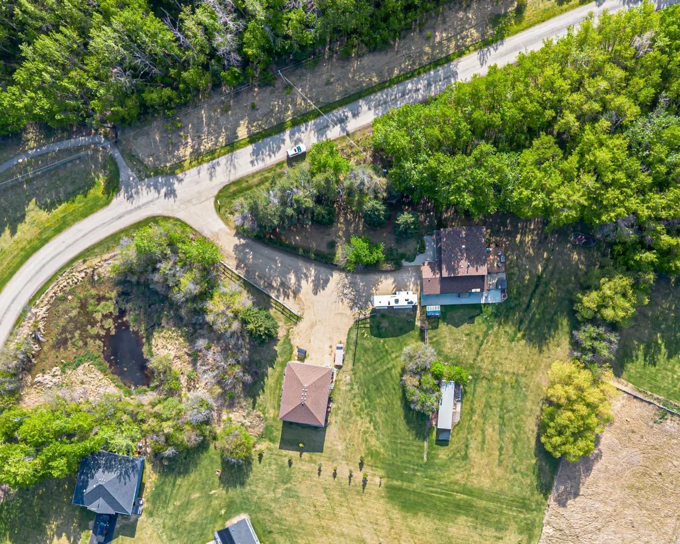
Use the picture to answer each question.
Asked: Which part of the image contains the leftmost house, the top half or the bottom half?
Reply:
bottom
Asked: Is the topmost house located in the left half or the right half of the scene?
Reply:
right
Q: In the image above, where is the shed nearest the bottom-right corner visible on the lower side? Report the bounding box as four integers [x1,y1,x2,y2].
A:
[437,381,454,440]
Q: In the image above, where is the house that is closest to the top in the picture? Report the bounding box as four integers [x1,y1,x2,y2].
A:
[421,227,505,306]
